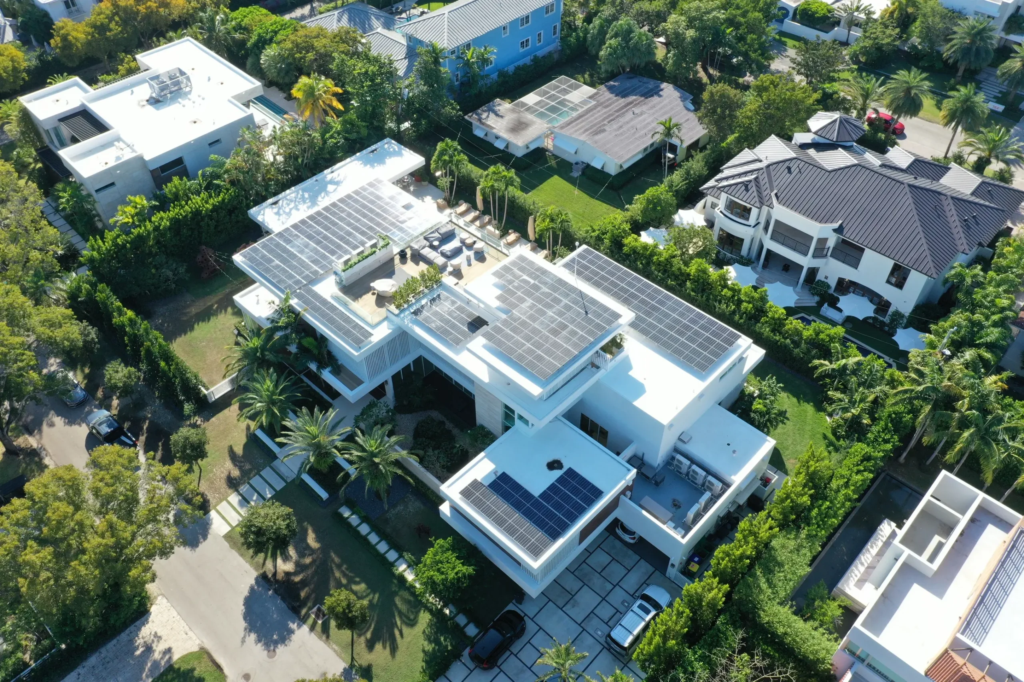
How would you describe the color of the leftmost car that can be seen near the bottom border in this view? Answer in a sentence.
From above, the leftmost car that can be seen near the bottom border appears black.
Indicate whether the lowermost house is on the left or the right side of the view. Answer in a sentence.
The lowermost house sits on the right side.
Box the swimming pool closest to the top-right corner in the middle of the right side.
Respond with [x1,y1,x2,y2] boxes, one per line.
[787,307,877,366]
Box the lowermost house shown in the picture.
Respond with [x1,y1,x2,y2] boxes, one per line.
[817,471,1024,682]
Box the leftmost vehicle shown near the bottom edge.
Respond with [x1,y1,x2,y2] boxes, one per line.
[467,606,535,676]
